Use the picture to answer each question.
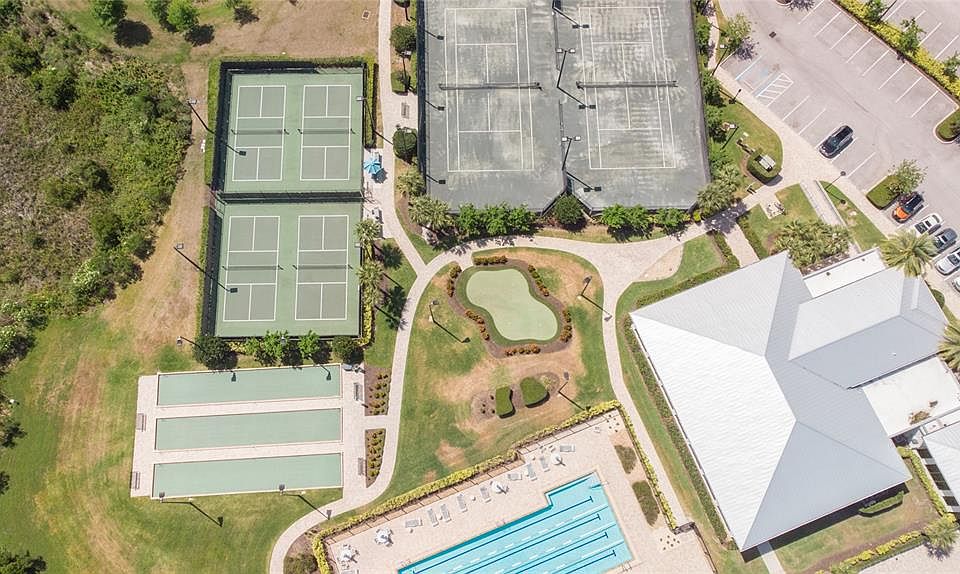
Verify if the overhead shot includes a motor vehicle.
Yes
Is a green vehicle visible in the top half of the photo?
No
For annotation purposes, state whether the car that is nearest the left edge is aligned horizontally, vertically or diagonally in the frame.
diagonally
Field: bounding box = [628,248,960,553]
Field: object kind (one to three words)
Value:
building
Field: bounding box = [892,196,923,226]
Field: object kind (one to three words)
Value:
car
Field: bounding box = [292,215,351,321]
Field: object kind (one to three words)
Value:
sports court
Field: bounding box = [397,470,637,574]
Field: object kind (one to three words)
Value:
swimming pool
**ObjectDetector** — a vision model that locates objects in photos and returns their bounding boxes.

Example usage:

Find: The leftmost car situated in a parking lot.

[818,125,853,158]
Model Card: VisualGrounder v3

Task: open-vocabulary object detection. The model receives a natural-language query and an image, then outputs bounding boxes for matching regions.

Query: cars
[892,196,923,226]
[818,125,853,158]
[952,269,960,288]
[937,240,960,273]
[908,215,941,246]
[924,229,958,261]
